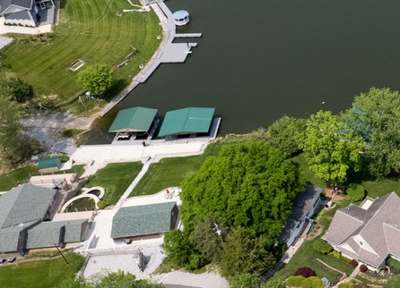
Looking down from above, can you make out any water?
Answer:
Yes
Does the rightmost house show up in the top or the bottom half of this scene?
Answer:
bottom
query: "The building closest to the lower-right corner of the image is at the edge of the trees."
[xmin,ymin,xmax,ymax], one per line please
[319,189,400,288]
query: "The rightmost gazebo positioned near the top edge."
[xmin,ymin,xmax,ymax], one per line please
[169,4,189,24]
